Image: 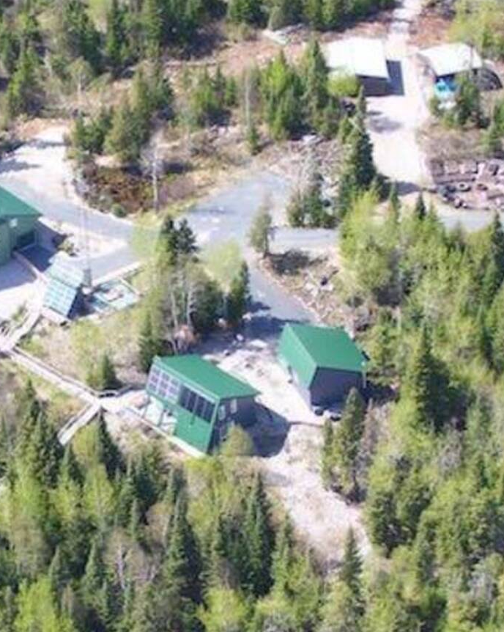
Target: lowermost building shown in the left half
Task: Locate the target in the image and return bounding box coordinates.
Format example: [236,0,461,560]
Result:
[124,355,266,457]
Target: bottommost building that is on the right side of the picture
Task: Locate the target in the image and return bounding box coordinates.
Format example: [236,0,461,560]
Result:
[276,323,365,412]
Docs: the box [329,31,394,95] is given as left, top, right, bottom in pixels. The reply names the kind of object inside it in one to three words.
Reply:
shed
